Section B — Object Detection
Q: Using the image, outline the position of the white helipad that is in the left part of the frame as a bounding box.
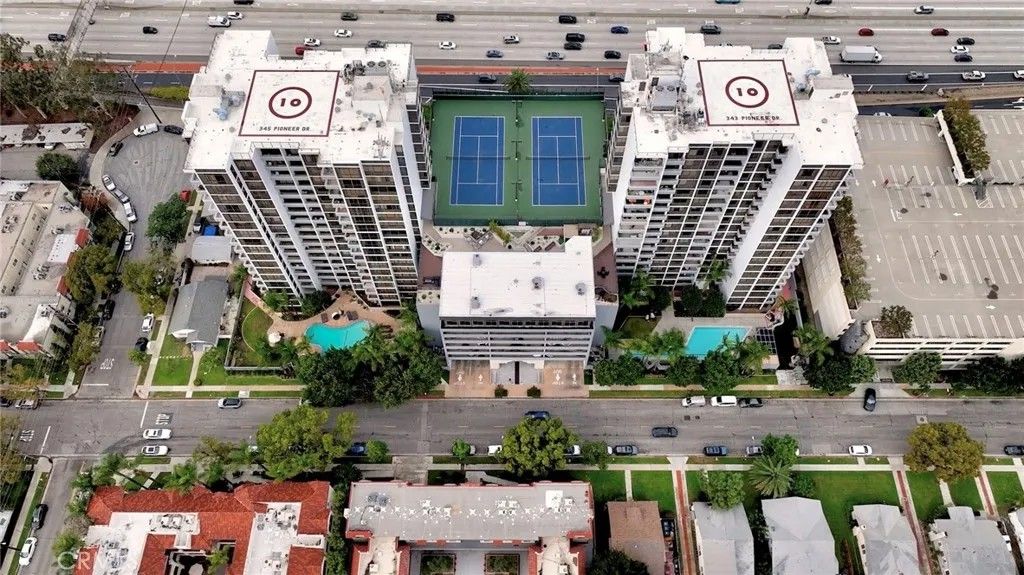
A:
[240,71,339,137]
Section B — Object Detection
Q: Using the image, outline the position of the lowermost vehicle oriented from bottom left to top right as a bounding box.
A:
[16,535,41,565]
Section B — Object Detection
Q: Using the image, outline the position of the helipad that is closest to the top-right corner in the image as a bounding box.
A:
[698,61,798,126]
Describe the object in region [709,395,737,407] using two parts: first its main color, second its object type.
white vehicle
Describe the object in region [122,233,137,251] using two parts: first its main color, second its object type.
gray car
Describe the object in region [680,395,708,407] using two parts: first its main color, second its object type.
white vehicle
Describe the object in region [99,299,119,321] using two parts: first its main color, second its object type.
black car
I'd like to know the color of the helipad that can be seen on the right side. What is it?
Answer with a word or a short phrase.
white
